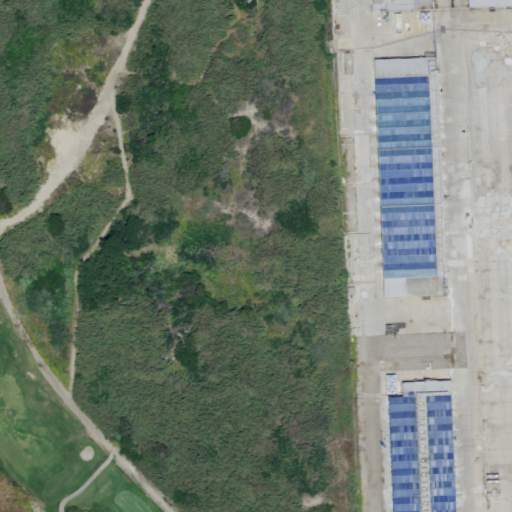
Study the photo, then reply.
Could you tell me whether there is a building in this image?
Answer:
Yes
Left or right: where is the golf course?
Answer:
left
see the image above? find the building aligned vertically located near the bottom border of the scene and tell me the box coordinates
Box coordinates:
[388,378,456,512]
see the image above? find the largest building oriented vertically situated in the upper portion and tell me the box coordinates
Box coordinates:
[374,58,446,296]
